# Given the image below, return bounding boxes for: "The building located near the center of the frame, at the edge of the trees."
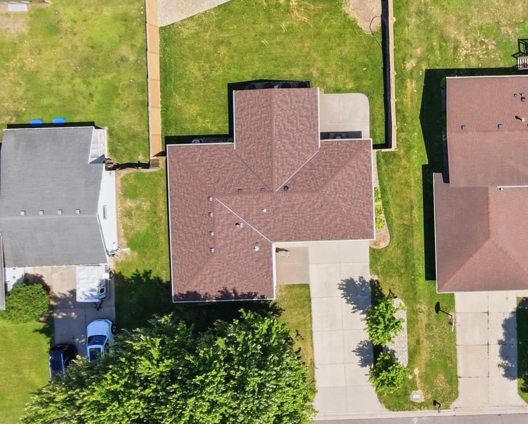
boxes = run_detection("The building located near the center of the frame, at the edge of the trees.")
[166,87,376,302]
